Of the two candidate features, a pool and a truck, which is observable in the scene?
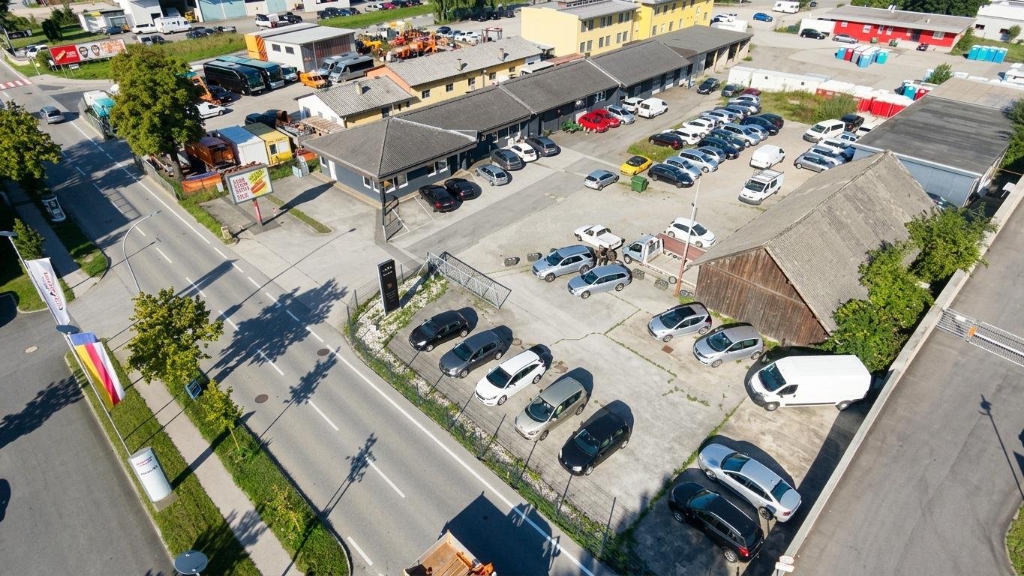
truck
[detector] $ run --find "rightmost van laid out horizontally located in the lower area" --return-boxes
[746,356,872,411]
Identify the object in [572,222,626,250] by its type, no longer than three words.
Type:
truck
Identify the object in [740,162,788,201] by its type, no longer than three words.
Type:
van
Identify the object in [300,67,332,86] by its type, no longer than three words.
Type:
vehicle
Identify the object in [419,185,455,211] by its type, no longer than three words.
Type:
car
